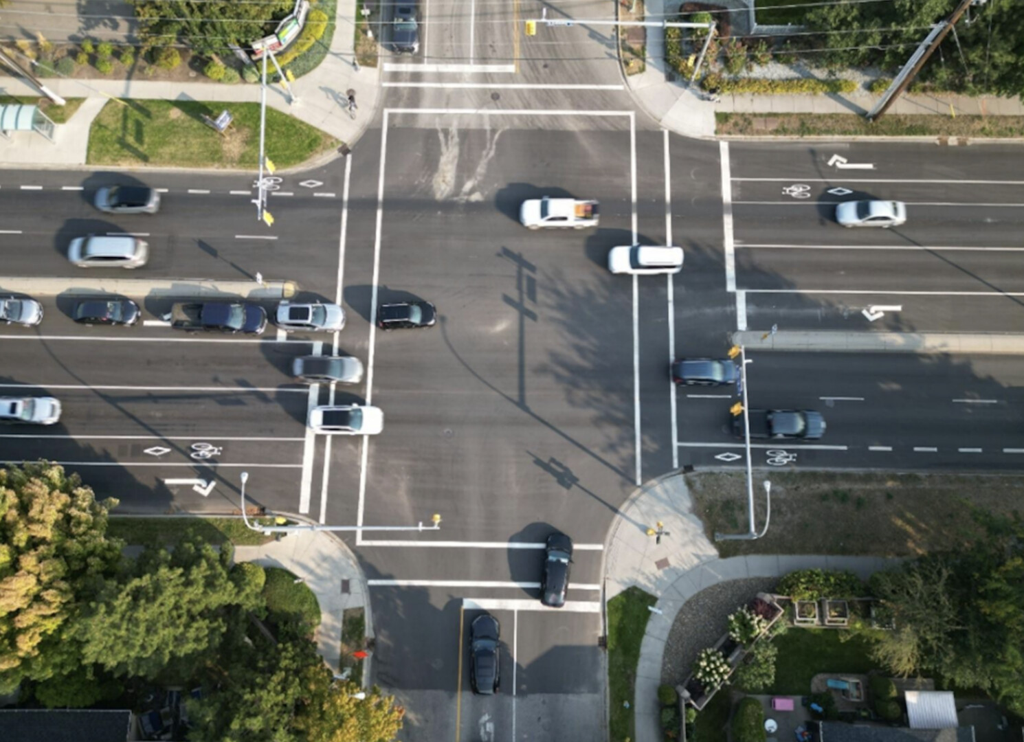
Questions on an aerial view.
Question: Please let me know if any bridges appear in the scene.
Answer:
No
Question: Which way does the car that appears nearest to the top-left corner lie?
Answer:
horizontally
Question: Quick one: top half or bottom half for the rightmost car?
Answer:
top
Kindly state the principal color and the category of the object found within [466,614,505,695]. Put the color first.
black car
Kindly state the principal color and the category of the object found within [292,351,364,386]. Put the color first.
gray car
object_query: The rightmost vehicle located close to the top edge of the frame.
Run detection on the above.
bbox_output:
[390,0,422,57]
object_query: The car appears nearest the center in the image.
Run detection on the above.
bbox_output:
[377,297,437,332]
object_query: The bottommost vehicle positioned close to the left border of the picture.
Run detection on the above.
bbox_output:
[0,391,66,427]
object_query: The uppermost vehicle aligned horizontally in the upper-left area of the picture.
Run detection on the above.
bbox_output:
[93,181,165,216]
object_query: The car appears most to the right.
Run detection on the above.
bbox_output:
[833,195,908,231]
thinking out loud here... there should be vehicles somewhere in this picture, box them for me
[307,400,385,437]
[538,533,577,609]
[274,298,347,334]
[670,352,741,388]
[466,614,505,695]
[390,0,422,57]
[377,297,437,332]
[93,181,165,216]
[607,240,685,278]
[70,295,145,329]
[66,231,153,270]
[520,193,600,232]
[727,404,828,442]
[166,298,270,335]
[292,351,364,386]
[0,391,66,427]
[833,195,908,231]
[0,295,47,329]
